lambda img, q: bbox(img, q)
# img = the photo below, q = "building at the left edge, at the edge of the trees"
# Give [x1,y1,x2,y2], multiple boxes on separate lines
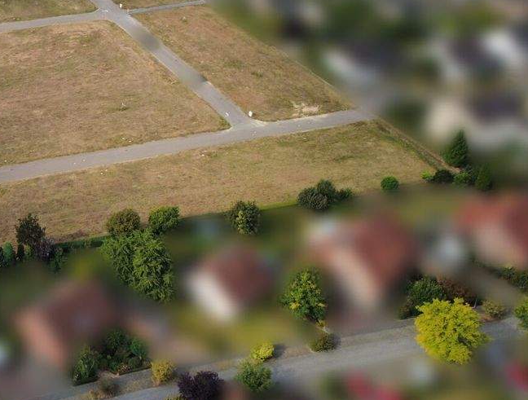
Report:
[24,287,126,376]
